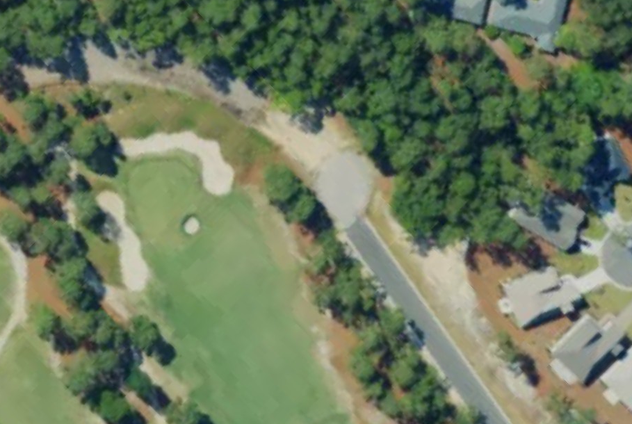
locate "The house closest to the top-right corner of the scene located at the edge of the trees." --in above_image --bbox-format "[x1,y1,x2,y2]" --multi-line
[484,0,565,53]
